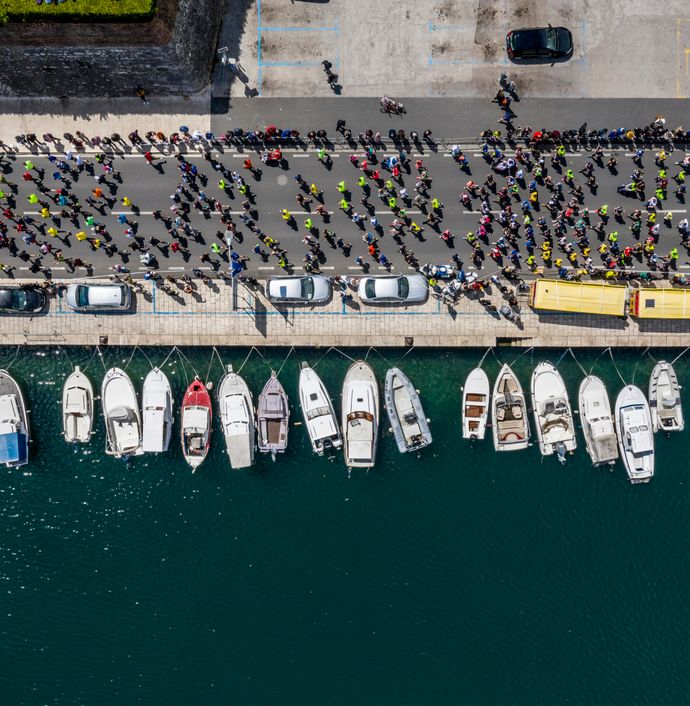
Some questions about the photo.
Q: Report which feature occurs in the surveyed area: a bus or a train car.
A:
train car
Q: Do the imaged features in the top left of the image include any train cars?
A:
No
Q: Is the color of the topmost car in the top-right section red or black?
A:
black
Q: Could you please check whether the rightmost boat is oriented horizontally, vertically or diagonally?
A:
vertically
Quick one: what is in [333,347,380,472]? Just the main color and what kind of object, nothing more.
white boat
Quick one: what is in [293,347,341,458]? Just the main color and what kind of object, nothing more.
white boat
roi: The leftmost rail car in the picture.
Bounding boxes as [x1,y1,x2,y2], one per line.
[516,279,629,317]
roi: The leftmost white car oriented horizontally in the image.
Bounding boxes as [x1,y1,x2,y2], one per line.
[67,282,130,314]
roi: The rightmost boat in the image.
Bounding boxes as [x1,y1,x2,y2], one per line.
[647,348,689,436]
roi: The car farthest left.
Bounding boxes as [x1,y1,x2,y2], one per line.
[0,286,47,317]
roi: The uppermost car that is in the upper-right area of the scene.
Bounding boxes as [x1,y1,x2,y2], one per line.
[507,28,573,63]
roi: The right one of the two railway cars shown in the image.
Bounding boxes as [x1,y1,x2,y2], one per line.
[622,285,690,320]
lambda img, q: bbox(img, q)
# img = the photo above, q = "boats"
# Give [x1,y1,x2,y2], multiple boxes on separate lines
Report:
[463,347,492,445]
[58,347,97,447]
[491,347,533,451]
[371,347,429,456]
[293,347,341,458]
[253,347,293,465]
[528,347,576,469]
[214,347,258,467]
[568,347,619,466]
[0,347,32,470]
[608,347,654,484]
[647,348,689,436]
[97,347,142,463]
[176,347,214,474]
[333,347,380,472]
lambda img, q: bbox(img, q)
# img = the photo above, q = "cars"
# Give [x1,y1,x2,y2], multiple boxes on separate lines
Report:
[507,28,573,63]
[67,282,130,314]
[266,274,330,306]
[0,286,47,317]
[360,274,427,307]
